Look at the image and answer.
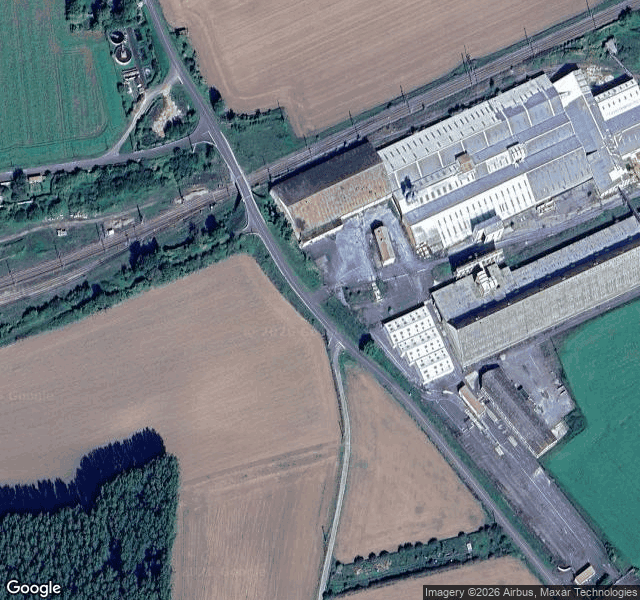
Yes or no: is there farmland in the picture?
Yes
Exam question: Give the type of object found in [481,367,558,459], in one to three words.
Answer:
building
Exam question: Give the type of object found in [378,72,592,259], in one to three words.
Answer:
building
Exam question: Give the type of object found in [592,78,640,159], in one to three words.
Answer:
shed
